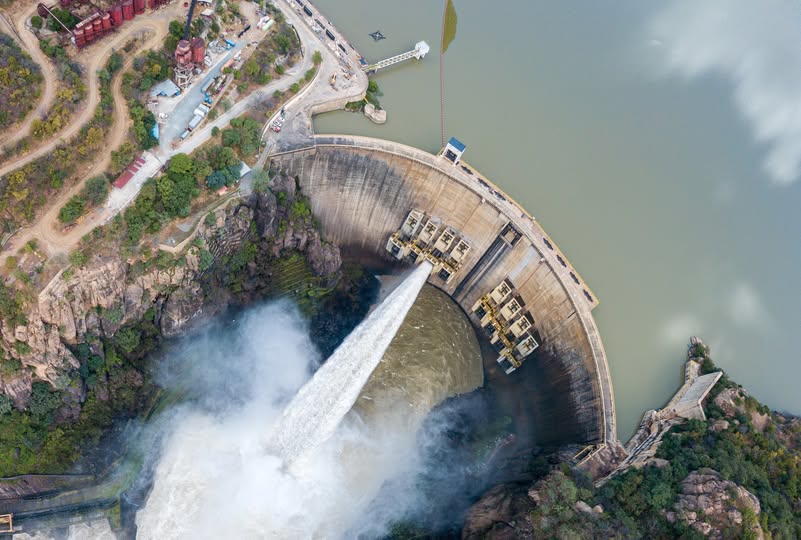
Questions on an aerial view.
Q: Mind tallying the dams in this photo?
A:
two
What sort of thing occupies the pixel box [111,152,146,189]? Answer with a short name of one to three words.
shed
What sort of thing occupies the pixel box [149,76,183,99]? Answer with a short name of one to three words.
shed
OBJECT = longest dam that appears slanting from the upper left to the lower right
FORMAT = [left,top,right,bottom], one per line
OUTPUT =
[262,136,623,453]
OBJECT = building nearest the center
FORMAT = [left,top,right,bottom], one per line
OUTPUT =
[440,140,464,166]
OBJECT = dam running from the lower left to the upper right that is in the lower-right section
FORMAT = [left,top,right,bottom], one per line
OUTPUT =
[626,361,724,445]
